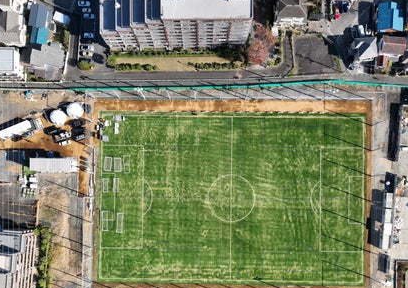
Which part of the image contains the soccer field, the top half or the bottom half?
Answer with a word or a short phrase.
bottom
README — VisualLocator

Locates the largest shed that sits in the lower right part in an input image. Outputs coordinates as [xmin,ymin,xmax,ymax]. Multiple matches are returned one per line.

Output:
[380,193,392,249]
